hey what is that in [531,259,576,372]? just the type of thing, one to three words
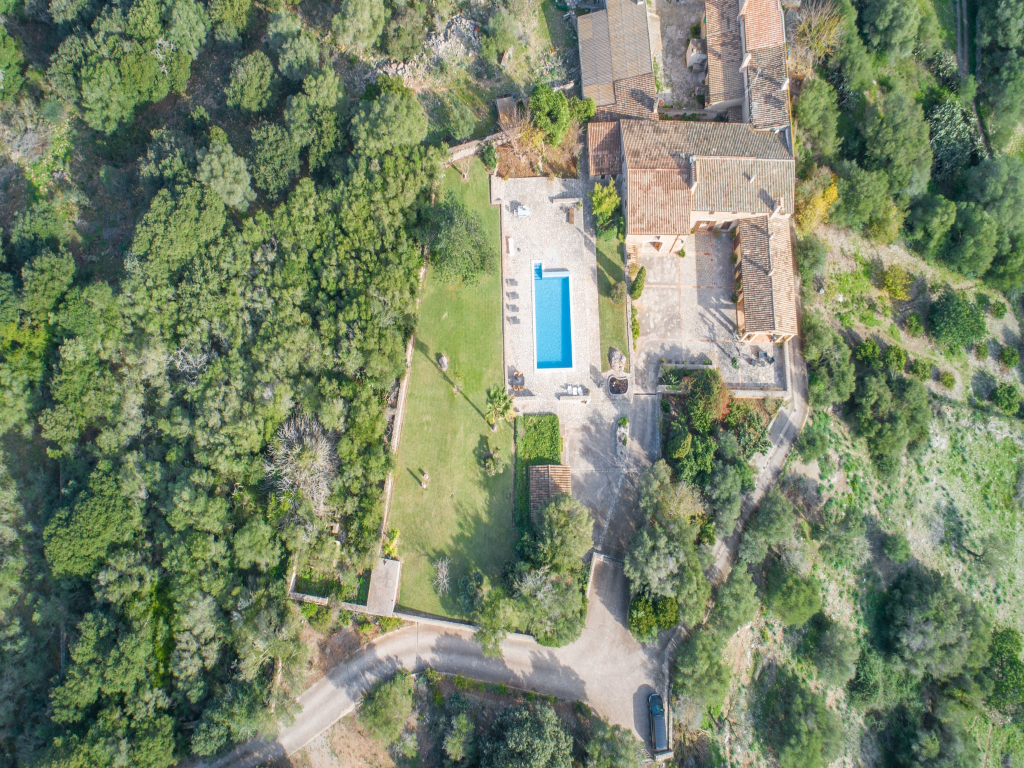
swimming pool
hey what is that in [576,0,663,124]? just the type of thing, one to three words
barn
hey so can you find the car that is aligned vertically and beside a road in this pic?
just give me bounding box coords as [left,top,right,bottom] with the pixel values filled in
[647,697,673,754]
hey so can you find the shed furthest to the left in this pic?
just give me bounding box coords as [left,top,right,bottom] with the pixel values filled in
[368,558,403,616]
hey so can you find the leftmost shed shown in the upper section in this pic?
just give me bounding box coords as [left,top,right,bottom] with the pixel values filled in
[496,94,525,135]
